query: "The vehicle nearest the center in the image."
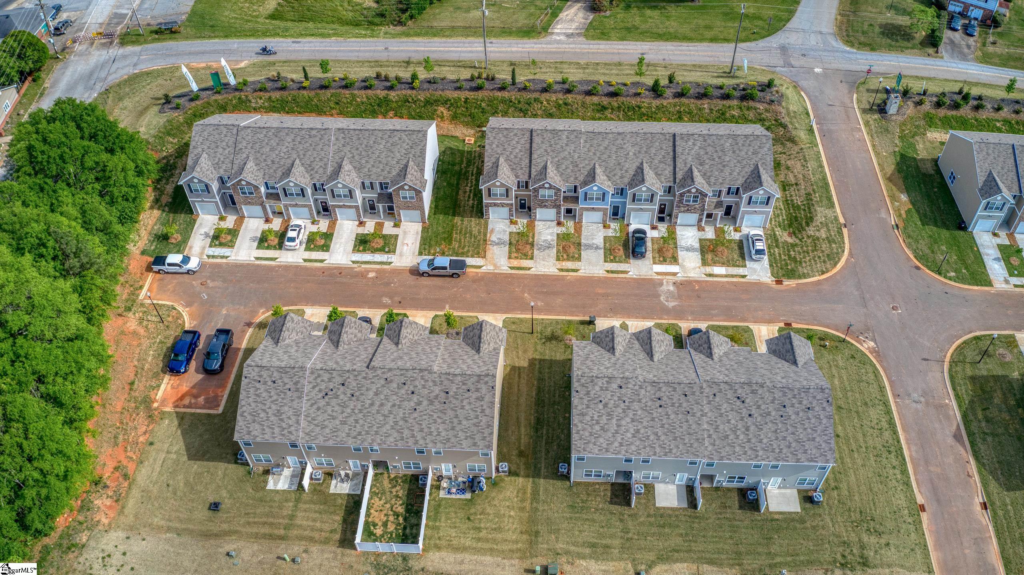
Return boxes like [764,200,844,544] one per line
[417,258,467,280]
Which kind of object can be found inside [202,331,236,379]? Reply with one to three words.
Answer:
truck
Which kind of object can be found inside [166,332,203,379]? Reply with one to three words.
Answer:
truck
